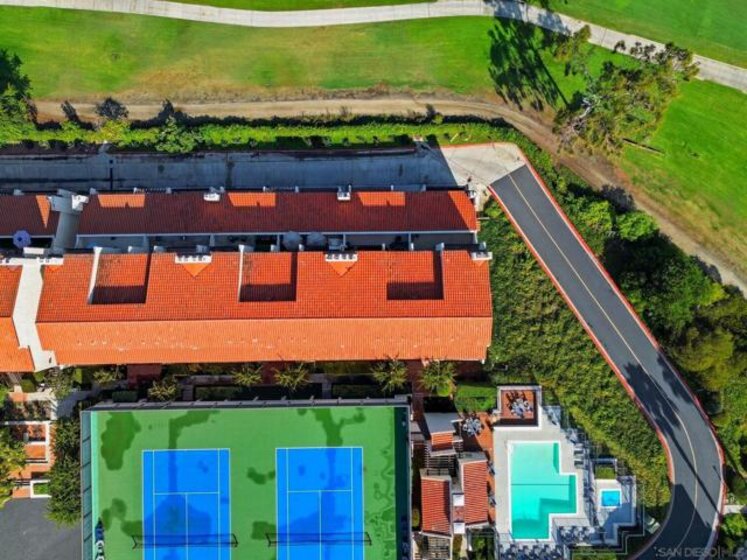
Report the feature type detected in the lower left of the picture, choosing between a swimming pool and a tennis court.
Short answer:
tennis court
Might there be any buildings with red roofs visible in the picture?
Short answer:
Yes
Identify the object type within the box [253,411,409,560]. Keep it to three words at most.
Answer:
tennis court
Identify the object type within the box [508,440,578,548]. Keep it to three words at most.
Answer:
swimming pool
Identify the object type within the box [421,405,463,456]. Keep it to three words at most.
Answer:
building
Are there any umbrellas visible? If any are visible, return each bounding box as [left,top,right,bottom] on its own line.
[305,234,327,251]
[15,231,44,249]
[281,234,303,252]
